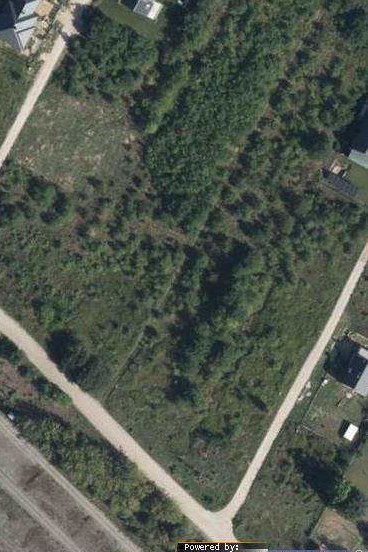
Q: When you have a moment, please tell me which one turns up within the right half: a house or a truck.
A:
house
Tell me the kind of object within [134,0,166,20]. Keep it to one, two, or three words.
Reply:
house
